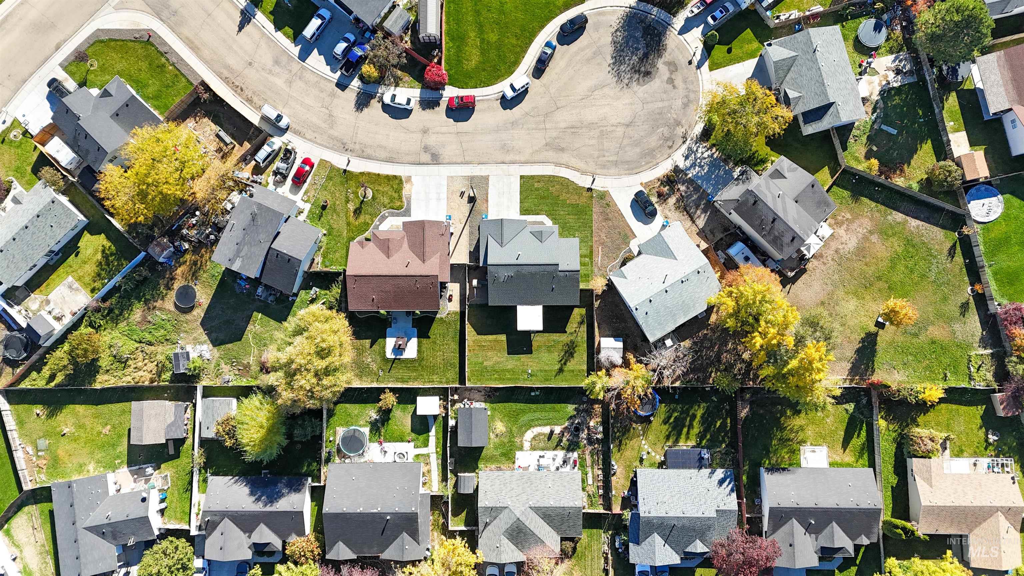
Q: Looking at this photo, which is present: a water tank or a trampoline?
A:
trampoline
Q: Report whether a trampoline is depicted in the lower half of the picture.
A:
Yes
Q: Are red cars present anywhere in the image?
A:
Yes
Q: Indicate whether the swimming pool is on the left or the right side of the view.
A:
right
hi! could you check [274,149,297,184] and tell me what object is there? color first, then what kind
gray truck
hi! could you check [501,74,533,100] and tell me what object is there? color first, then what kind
white car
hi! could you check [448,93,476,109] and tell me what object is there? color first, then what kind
red car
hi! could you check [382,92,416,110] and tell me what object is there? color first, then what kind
white car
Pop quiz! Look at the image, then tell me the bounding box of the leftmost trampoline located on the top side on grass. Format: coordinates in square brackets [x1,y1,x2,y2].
[855,18,887,49]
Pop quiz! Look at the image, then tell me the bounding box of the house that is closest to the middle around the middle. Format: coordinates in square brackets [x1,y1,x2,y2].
[479,219,580,306]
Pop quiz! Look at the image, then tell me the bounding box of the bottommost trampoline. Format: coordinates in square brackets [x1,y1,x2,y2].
[337,426,368,457]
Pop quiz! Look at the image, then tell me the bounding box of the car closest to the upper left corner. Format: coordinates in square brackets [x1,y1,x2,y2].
[44,72,74,99]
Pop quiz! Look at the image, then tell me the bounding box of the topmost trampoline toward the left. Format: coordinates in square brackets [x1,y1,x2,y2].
[175,284,199,306]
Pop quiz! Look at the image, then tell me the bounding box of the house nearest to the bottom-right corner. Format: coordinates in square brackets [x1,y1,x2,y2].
[903,454,1024,570]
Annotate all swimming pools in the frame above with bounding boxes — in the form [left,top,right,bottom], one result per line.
[966,184,1004,222]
